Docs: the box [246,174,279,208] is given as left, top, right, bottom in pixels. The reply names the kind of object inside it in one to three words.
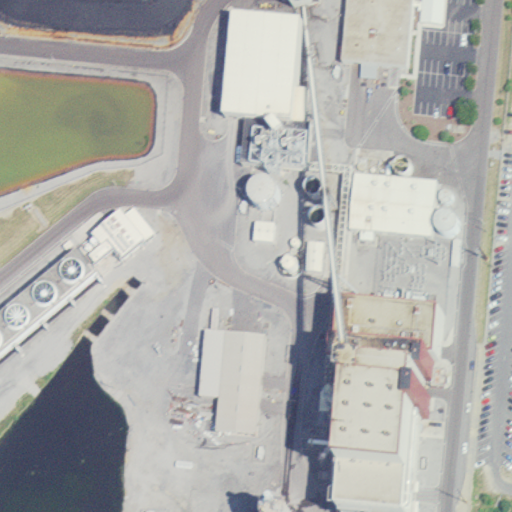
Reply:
storage tank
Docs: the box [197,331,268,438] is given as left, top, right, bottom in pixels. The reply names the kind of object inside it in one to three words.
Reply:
building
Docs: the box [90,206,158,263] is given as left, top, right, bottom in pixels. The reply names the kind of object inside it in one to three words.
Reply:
building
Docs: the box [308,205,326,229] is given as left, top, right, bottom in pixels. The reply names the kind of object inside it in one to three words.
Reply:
silo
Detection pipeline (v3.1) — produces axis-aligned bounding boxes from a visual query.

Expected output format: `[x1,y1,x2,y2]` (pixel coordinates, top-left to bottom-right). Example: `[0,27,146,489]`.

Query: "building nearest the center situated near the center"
[253,221,276,244]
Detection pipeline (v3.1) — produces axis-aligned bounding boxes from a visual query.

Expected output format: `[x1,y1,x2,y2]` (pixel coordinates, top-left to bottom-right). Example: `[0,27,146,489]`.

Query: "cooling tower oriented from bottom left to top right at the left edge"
[0,243,119,372]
